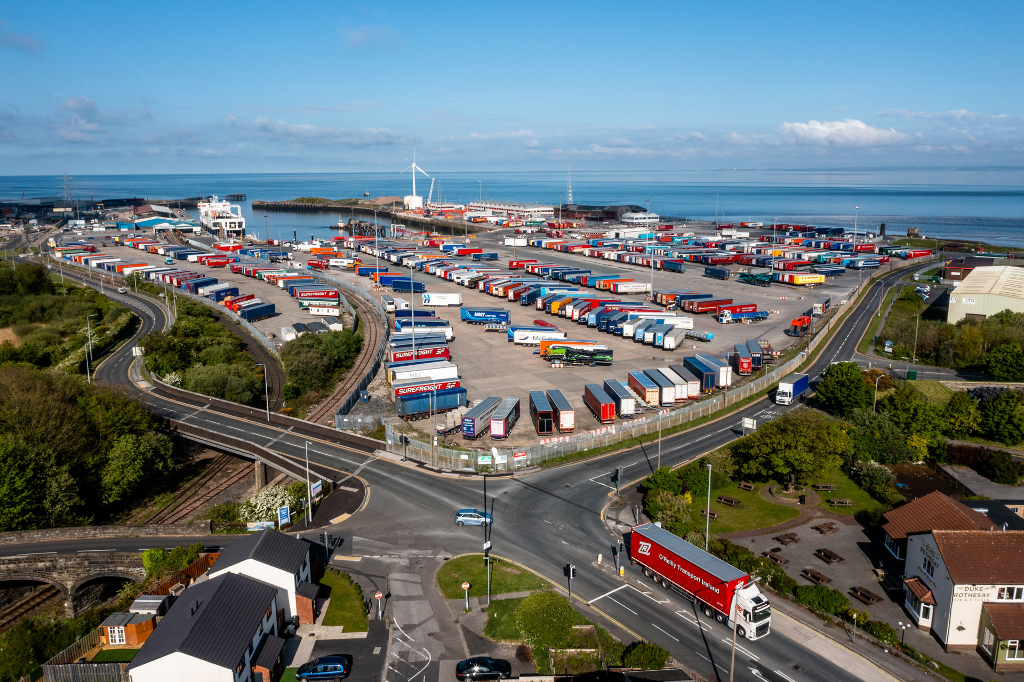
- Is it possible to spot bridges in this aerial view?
Yes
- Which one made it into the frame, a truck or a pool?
truck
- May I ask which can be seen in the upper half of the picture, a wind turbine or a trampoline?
wind turbine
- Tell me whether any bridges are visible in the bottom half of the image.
Yes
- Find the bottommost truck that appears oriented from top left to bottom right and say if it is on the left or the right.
right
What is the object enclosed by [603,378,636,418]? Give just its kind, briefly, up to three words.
trailer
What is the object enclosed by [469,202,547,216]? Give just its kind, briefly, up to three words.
building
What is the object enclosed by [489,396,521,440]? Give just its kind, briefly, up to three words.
trailer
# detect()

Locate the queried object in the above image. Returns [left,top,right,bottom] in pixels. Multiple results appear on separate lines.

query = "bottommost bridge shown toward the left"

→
[0,521,185,611]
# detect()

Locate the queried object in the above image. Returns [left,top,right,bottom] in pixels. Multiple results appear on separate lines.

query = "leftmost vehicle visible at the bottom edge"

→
[298,653,352,682]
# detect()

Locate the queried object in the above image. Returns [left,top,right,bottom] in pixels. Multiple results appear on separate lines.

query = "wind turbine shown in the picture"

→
[400,145,428,198]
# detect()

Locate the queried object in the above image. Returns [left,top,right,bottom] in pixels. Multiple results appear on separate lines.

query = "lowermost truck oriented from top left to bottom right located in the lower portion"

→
[629,520,774,636]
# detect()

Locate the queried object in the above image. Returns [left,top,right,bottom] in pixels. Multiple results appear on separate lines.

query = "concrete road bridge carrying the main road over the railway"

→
[132,377,386,489]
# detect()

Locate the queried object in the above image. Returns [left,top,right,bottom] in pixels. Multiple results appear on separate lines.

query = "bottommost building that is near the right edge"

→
[892,527,1024,678]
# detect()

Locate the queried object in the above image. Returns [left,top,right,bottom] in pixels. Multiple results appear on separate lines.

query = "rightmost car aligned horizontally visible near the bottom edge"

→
[456,659,512,682]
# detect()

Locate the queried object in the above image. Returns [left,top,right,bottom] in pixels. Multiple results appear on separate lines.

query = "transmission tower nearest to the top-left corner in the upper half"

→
[59,171,75,211]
